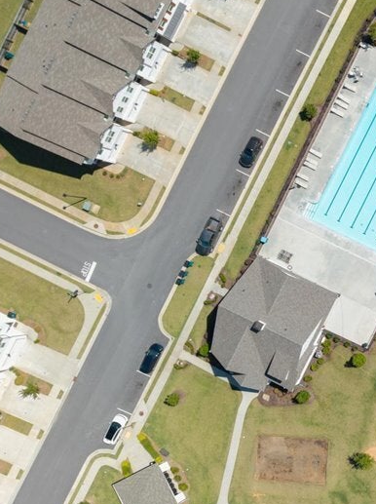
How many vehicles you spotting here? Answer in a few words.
four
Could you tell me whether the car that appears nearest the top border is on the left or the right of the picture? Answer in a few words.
right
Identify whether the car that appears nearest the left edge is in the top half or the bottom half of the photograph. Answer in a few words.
bottom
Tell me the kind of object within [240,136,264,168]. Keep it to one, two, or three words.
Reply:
car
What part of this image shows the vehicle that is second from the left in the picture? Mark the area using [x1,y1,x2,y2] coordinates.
[137,342,166,375]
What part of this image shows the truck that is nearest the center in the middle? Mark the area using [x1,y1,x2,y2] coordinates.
[197,218,223,255]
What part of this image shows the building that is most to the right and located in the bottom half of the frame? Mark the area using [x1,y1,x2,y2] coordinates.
[202,255,336,392]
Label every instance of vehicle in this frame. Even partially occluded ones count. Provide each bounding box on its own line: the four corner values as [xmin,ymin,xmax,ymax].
[137,342,166,375]
[103,414,129,445]
[197,218,223,255]
[240,136,264,168]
